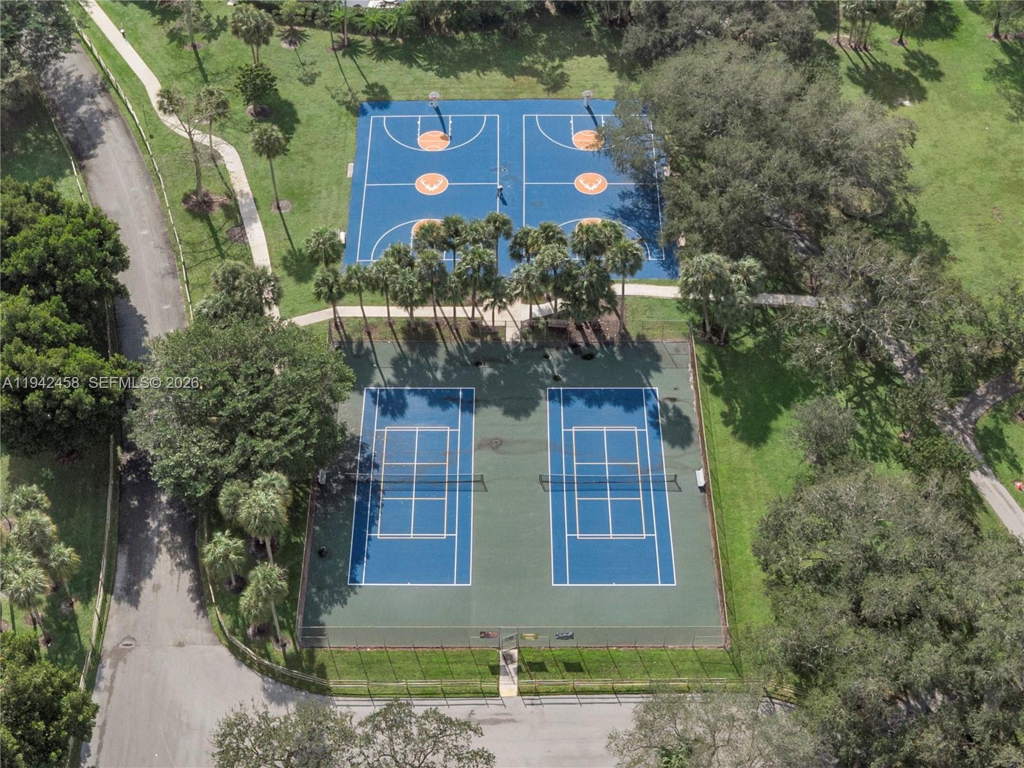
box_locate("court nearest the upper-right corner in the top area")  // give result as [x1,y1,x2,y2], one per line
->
[523,115,665,262]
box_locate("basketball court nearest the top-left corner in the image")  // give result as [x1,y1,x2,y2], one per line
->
[358,115,499,262]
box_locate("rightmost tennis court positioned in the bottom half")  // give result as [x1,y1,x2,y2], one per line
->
[547,388,676,585]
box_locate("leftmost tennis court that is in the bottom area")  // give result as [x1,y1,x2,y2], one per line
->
[348,387,475,585]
